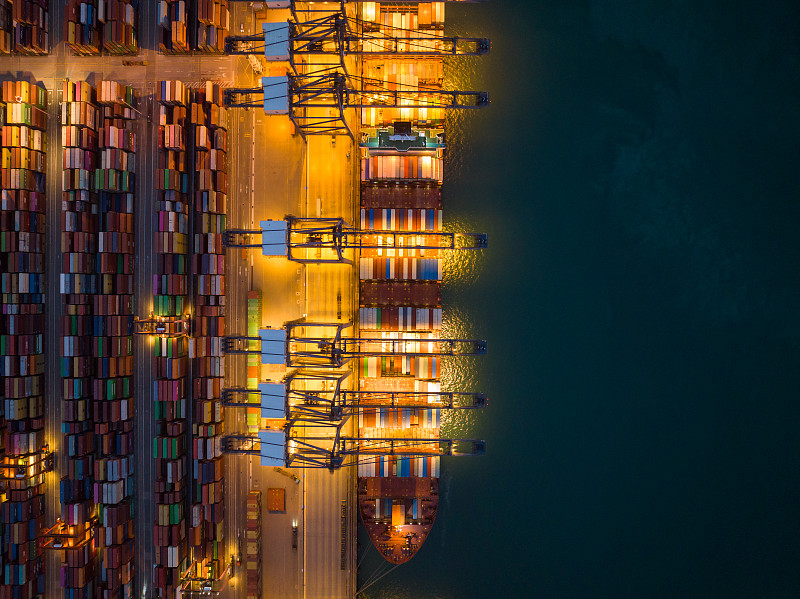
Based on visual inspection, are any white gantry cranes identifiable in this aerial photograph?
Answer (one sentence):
No, no white gantry crane is visible in the scene.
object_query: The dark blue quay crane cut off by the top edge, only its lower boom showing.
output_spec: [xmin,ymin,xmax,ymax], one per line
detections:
[227,0,491,52]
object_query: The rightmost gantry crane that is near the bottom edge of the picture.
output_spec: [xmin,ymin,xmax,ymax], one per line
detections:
[178,562,230,594]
